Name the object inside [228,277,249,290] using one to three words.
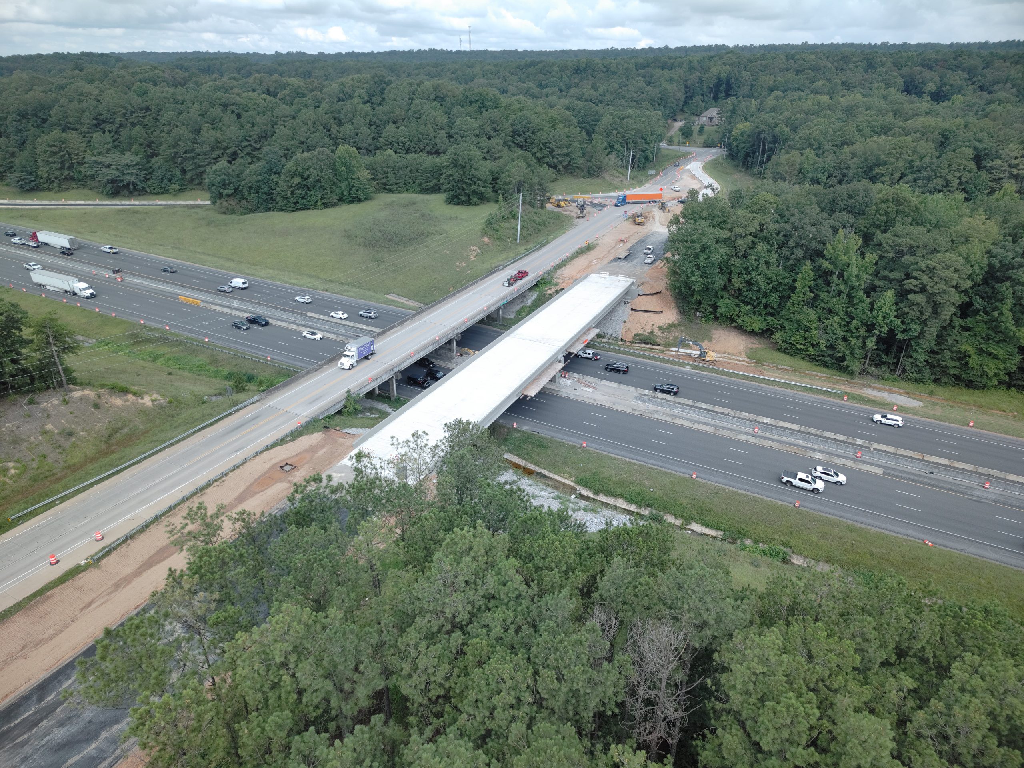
vehicle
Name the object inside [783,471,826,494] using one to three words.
truck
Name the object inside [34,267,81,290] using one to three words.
trailer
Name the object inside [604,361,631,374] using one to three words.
vehicle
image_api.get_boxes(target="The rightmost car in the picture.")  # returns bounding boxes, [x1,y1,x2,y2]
[873,413,905,428]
